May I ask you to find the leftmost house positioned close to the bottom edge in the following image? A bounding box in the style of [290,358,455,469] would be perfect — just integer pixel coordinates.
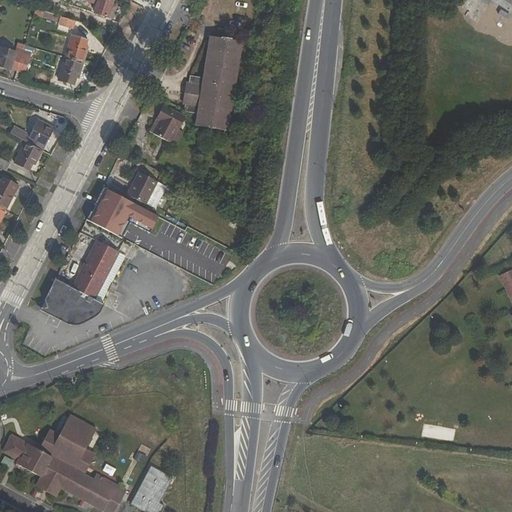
[0,418,126,512]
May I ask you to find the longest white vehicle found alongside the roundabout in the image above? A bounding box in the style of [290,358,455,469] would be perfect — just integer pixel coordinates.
[317,200,333,246]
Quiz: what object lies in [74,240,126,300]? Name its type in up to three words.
building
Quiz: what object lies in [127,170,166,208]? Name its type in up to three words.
house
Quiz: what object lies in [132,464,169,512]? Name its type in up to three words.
barn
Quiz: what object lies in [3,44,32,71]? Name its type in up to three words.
house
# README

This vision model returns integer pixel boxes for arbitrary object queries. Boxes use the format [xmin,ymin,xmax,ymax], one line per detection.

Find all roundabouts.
[233,247,365,379]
